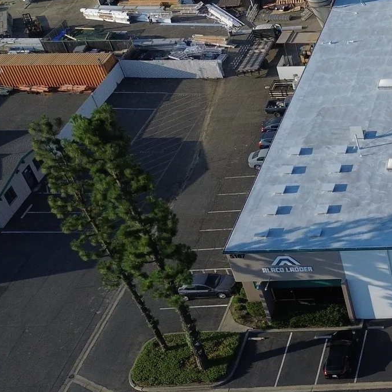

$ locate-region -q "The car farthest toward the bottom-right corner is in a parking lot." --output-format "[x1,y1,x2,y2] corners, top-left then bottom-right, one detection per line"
[323,325,361,380]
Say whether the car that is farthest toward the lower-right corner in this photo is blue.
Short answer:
No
